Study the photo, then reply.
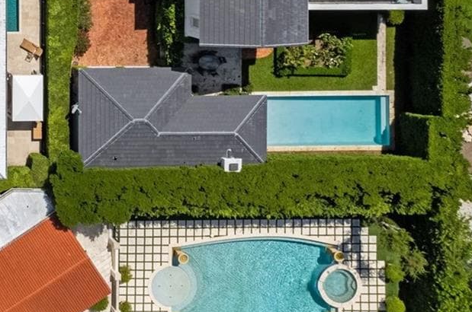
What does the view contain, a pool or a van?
pool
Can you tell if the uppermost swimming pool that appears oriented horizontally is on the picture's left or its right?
right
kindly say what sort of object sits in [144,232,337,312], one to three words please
swimming pool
